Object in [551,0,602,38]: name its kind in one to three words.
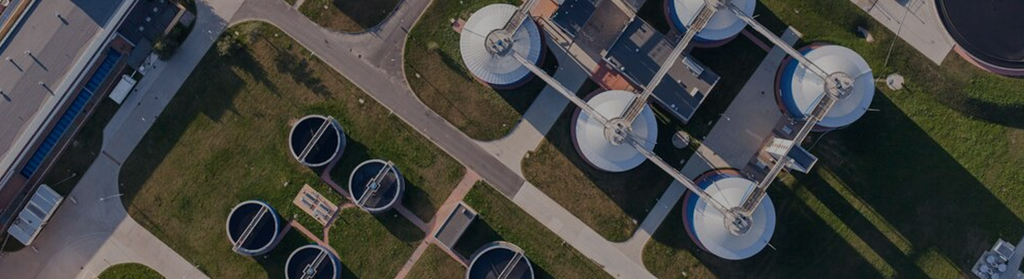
building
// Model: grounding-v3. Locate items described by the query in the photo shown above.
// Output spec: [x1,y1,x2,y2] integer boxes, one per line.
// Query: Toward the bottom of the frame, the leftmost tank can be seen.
[226,198,283,254]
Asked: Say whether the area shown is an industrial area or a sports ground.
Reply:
industrial area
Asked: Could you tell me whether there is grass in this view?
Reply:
Yes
